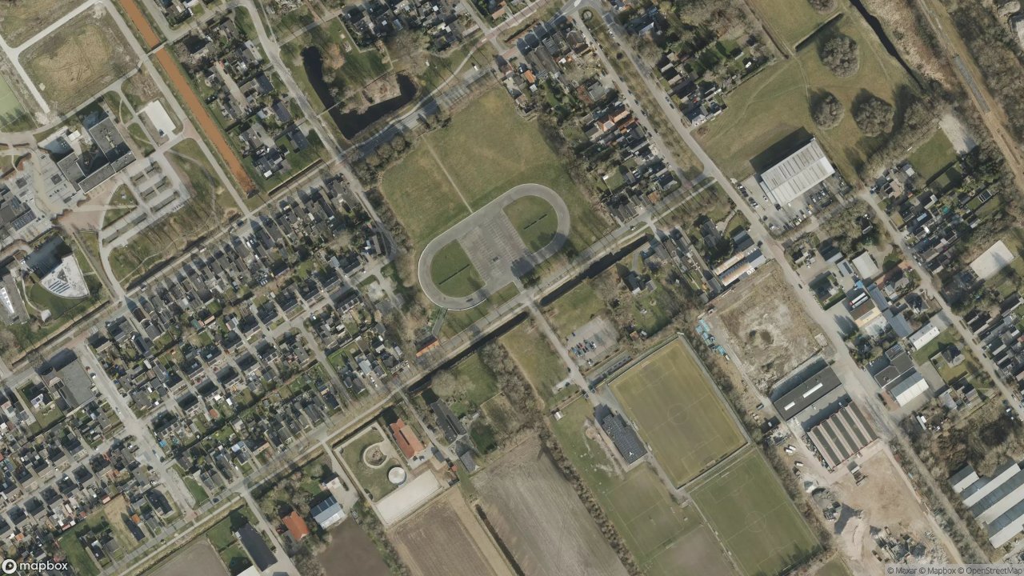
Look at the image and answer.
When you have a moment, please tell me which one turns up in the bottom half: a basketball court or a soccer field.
soccer field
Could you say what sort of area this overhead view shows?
residential area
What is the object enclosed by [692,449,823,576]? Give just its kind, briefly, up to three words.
soccer field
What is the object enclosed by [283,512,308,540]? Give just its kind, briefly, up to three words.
house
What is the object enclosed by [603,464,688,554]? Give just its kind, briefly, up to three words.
soccer field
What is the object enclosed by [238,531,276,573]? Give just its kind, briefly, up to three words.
barn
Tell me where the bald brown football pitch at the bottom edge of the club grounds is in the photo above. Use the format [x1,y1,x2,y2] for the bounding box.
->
[650,516,742,576]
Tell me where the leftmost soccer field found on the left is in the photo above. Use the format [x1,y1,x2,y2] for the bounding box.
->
[0,75,26,130]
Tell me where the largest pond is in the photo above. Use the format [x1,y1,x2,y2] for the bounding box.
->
[303,47,416,139]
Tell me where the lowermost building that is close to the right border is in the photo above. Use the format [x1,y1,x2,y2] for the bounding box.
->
[982,503,1024,547]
